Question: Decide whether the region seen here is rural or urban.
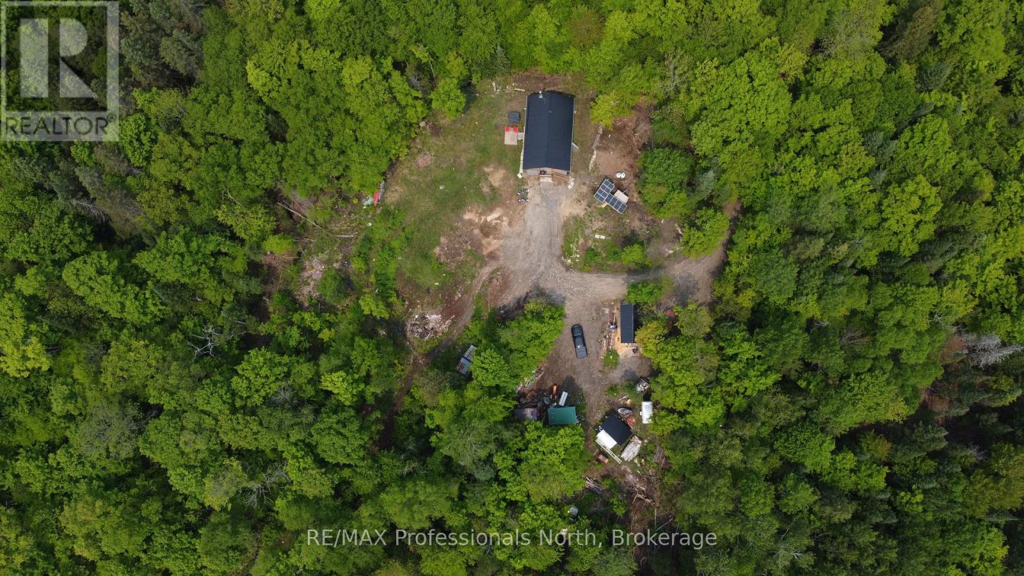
rural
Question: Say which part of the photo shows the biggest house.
top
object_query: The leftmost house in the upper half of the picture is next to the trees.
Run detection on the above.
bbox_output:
[521,91,578,172]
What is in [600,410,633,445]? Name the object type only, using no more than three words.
shed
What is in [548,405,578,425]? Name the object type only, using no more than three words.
shed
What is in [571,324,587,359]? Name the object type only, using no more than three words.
vehicle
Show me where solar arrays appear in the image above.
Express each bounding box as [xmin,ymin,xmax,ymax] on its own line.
[595,180,614,202]
[605,194,627,213]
